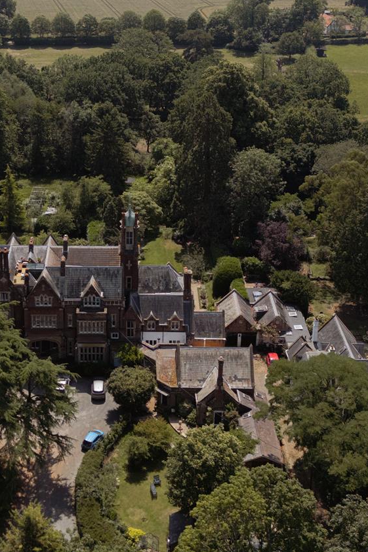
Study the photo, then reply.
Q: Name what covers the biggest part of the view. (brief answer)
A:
trees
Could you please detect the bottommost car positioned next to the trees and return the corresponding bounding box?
[80,427,107,452]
